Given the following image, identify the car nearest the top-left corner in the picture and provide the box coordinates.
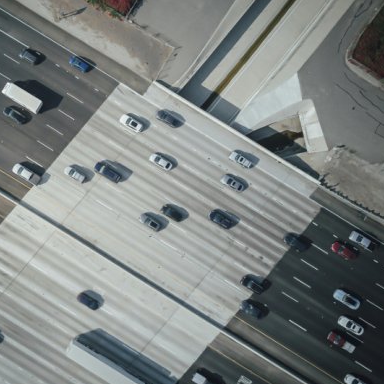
[18,50,41,68]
